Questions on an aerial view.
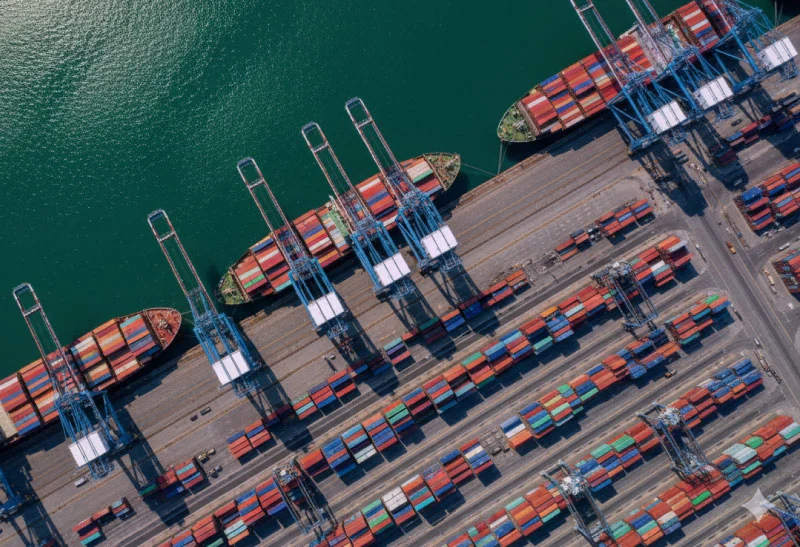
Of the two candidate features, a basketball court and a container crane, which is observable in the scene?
container crane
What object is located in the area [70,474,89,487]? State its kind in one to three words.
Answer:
vehicle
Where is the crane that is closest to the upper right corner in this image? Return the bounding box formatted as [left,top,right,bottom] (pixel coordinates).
[702,0,796,102]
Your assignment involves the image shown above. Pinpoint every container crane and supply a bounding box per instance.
[301,120,420,303]
[573,0,687,160]
[633,0,730,134]
[8,281,152,477]
[145,206,277,395]
[262,450,331,533]
[627,398,707,478]
[347,95,465,278]
[238,156,362,340]
[702,0,796,102]
[584,257,658,331]
[538,456,612,538]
